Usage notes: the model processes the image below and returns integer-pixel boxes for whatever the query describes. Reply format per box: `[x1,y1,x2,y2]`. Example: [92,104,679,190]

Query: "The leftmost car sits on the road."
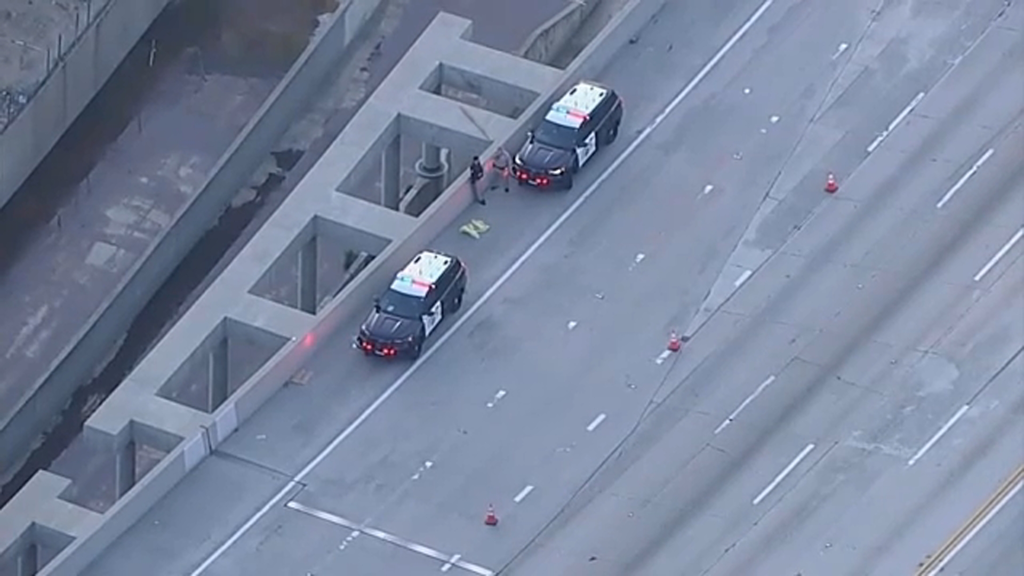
[358,247,464,362]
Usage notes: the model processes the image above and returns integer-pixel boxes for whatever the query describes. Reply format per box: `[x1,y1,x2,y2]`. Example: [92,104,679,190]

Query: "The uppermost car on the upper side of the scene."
[515,80,621,191]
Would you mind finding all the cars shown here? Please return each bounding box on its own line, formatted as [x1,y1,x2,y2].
[515,80,621,191]
[358,247,464,362]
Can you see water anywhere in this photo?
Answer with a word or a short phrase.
No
